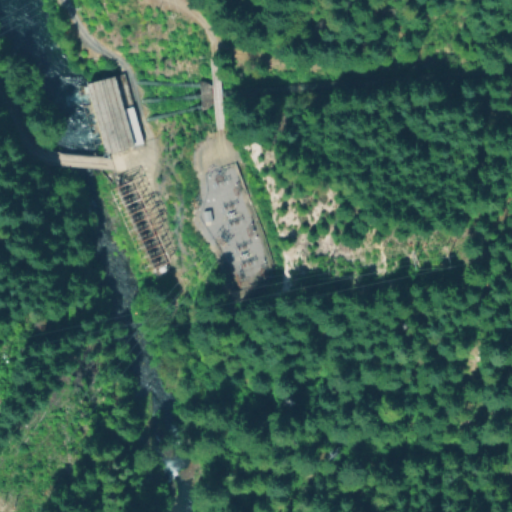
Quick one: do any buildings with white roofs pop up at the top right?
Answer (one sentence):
No, the scene shows no building with a white roof at the top right.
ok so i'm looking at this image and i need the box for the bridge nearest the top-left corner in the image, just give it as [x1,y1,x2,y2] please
[58,152,116,168]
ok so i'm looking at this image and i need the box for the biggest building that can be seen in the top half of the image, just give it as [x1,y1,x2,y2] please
[85,77,134,156]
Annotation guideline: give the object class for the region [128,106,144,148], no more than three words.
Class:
building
